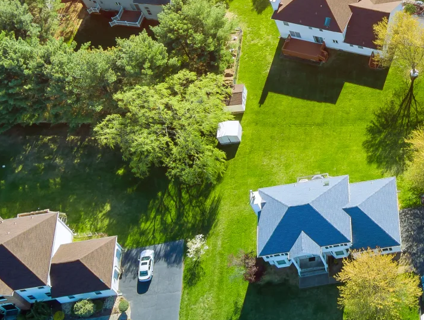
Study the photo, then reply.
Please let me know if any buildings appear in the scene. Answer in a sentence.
Yes, the frame does contain a building.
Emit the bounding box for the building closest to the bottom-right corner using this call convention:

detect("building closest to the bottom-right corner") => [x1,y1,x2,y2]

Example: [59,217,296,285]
[246,174,400,281]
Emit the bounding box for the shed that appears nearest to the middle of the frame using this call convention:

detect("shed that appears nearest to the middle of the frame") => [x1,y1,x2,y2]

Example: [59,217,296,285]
[215,117,241,144]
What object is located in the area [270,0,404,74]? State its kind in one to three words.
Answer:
house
